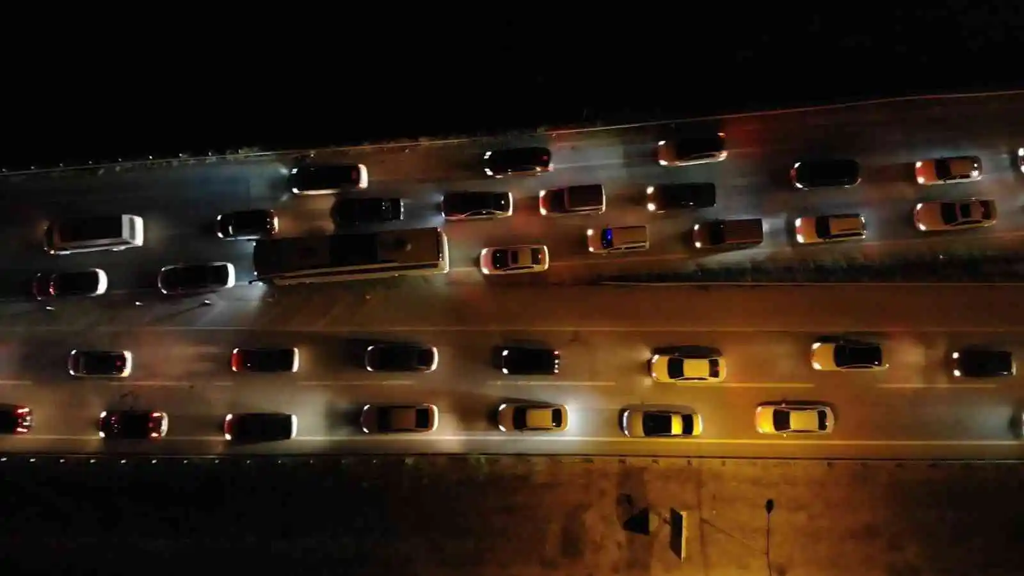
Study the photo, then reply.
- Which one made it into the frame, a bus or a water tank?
bus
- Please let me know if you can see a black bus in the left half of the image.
Yes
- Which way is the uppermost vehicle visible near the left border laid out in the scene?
from side to side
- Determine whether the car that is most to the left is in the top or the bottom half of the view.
bottom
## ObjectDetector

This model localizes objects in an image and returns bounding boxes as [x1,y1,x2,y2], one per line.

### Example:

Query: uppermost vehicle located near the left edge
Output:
[47,214,145,254]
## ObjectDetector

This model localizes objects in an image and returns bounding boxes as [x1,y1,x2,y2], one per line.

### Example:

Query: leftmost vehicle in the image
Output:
[0,405,36,434]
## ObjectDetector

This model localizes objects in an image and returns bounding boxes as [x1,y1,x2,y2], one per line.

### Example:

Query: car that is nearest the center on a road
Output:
[480,241,551,275]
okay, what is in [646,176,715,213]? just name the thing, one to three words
van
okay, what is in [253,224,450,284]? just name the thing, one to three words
bus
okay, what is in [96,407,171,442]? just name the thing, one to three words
car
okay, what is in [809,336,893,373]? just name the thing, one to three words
car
